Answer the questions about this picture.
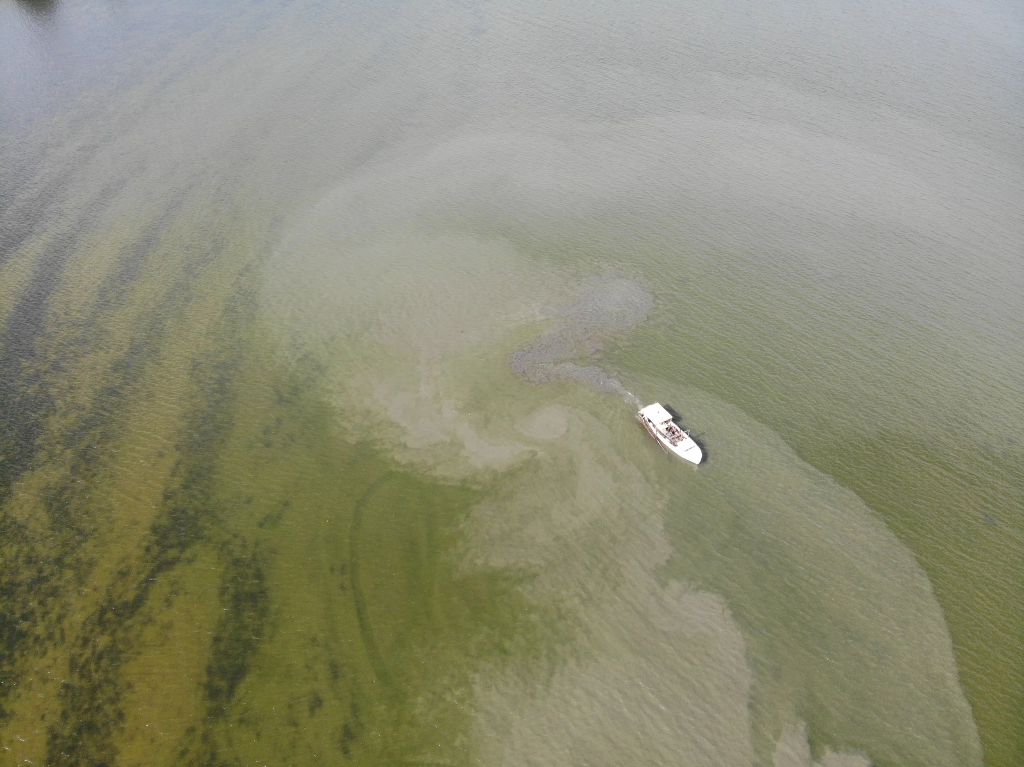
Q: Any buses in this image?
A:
No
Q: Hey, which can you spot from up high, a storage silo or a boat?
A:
boat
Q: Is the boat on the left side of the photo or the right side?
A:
right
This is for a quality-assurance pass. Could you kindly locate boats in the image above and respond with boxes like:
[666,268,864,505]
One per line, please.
[638,403,700,466]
